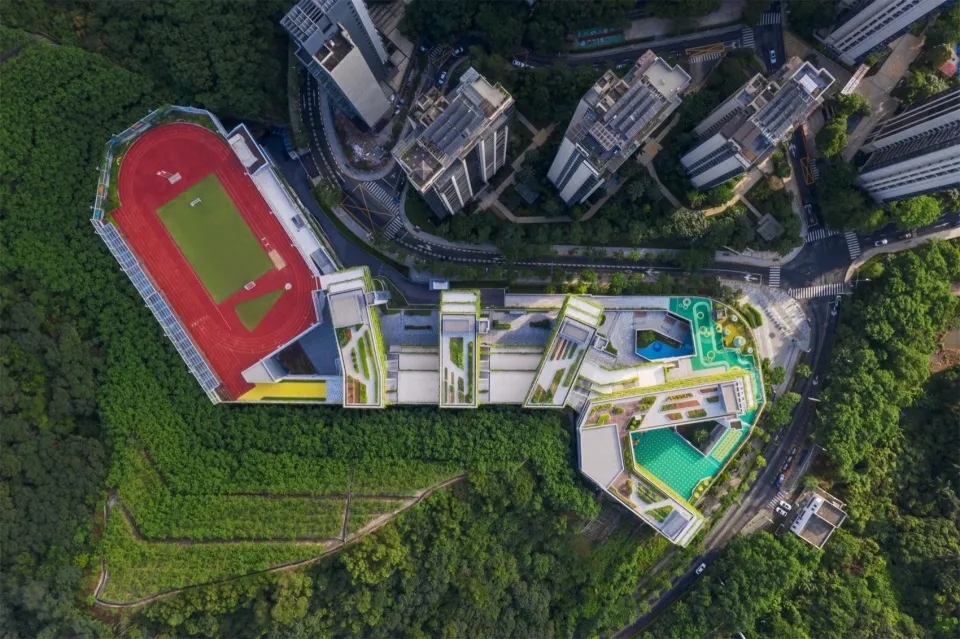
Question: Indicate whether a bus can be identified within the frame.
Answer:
No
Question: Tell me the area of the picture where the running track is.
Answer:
left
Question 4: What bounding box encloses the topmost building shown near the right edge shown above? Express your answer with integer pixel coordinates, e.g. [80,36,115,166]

[813,0,953,65]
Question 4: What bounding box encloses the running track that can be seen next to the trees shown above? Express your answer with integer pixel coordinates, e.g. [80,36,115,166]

[102,113,322,402]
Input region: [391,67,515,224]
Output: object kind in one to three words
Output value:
building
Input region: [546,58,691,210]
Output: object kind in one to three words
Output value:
building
